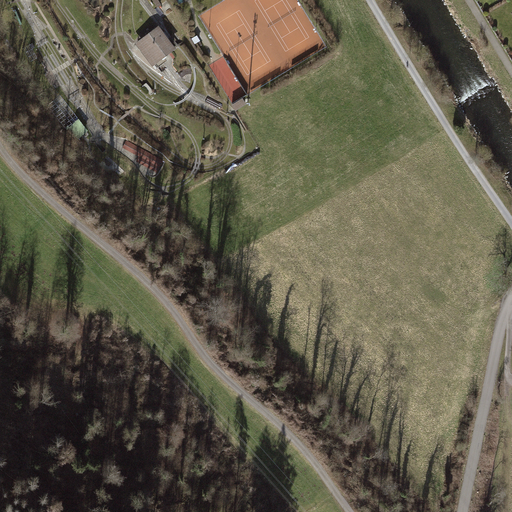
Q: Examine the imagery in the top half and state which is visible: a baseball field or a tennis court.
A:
tennis court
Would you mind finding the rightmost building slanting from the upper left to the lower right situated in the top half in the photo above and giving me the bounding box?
[209,56,246,102]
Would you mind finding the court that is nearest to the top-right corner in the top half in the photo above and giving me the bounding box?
[246,0,325,70]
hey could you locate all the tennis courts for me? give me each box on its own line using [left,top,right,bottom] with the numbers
[246,0,325,70]
[200,0,288,93]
